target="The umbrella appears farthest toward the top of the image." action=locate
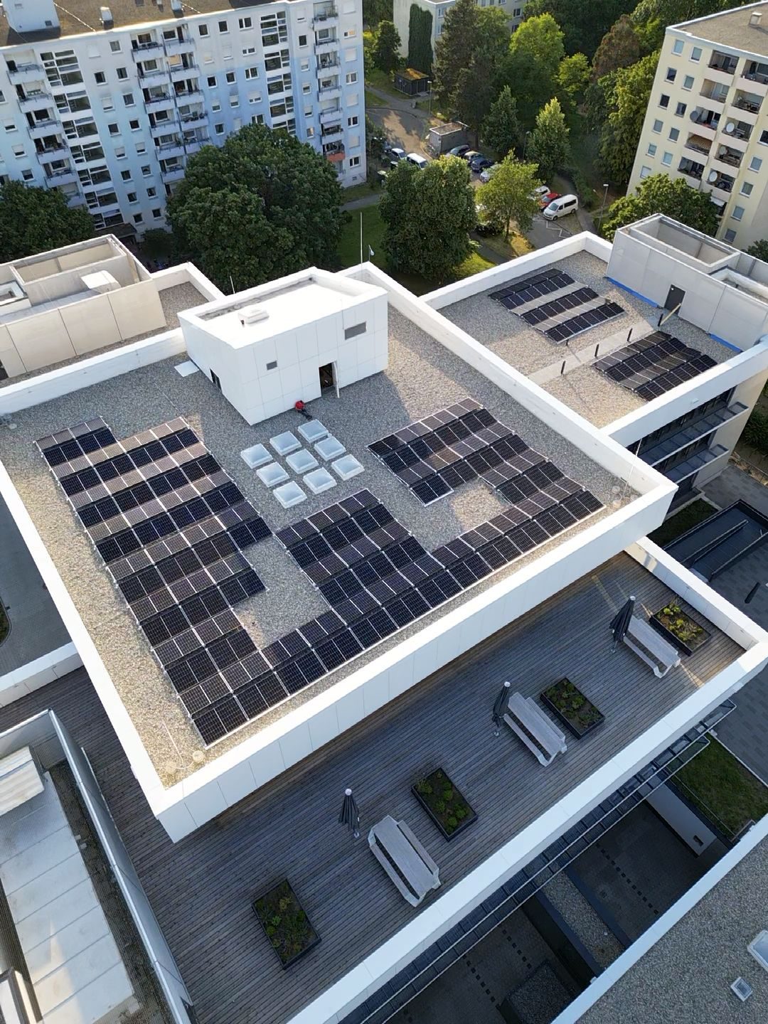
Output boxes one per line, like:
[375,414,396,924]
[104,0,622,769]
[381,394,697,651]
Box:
[610,595,641,651]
